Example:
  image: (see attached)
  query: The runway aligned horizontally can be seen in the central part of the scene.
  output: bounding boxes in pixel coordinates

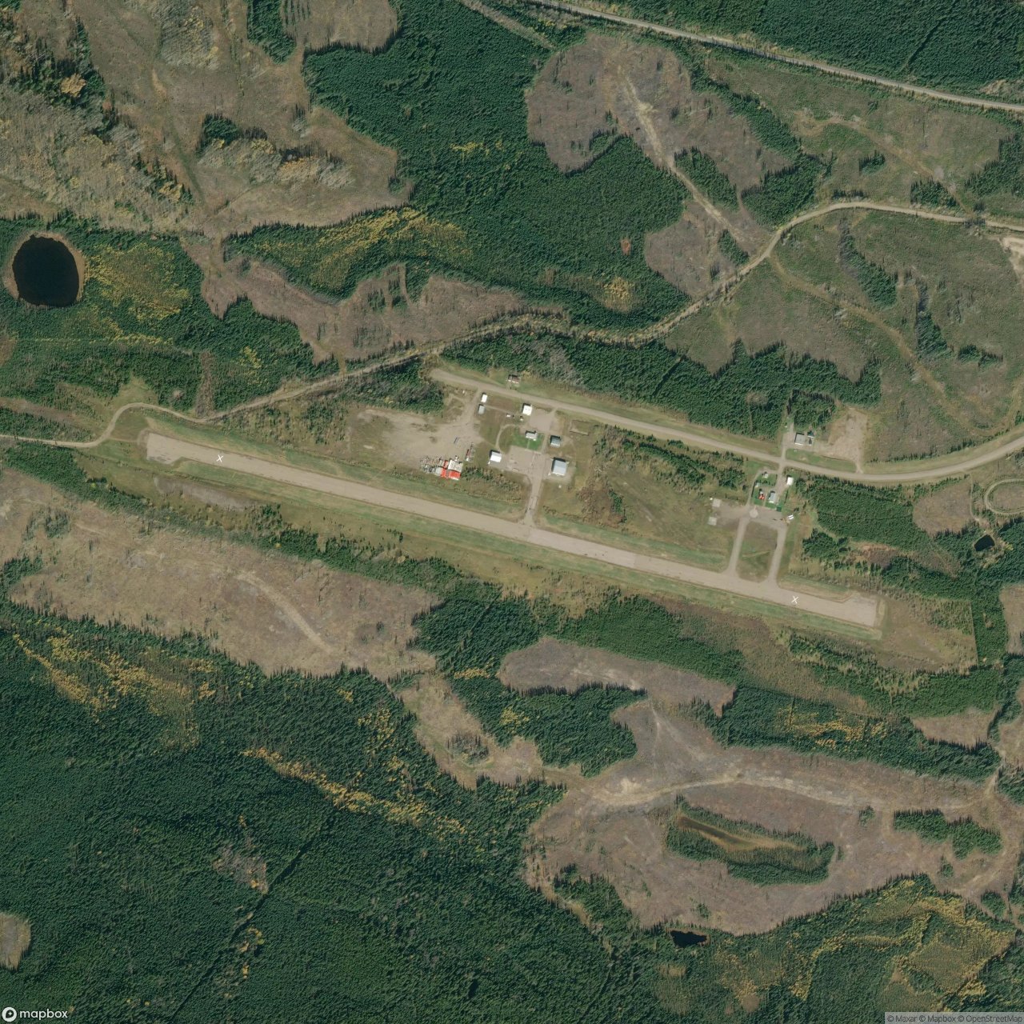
[148,433,876,626]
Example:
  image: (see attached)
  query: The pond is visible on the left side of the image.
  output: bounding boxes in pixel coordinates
[12,234,79,308]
